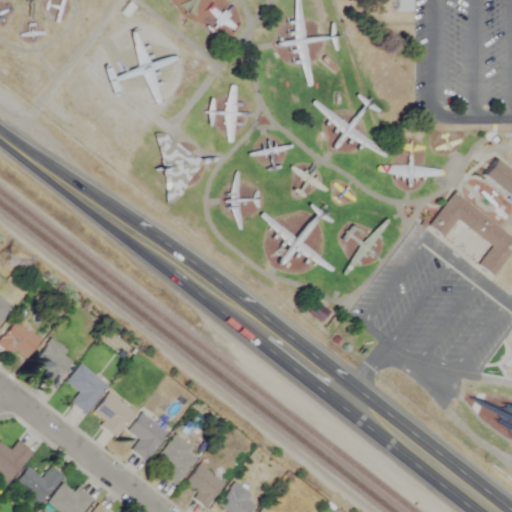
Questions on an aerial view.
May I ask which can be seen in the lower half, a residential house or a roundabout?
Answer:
residential house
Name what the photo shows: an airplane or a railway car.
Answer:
airplane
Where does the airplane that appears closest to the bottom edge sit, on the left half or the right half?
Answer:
right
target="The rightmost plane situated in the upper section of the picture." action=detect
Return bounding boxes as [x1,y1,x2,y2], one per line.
[435,132,464,150]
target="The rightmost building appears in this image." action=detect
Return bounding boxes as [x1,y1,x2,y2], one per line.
[482,156,512,192]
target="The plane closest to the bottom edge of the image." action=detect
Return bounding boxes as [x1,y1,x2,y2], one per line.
[470,397,512,435]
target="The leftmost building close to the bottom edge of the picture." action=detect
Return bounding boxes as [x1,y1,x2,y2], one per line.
[0,441,33,488]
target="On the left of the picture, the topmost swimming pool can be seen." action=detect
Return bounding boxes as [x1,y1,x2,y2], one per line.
[168,401,182,418]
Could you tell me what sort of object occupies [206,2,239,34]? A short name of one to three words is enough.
airplane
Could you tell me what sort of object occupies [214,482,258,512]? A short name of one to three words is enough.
house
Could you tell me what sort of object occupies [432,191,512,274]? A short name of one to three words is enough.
building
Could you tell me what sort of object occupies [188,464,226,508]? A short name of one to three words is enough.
house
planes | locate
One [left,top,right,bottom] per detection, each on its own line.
[470,397,512,435]
[0,6,10,24]
[278,0,342,86]
[292,166,330,198]
[260,203,336,272]
[20,21,46,39]
[343,218,392,276]
[249,140,294,172]
[225,170,262,230]
[314,92,388,156]
[104,30,178,104]
[46,0,66,22]
[377,140,446,188]
[156,132,220,204]
[206,2,239,34]
[204,84,256,142]
[435,132,464,150]
[333,182,358,204]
